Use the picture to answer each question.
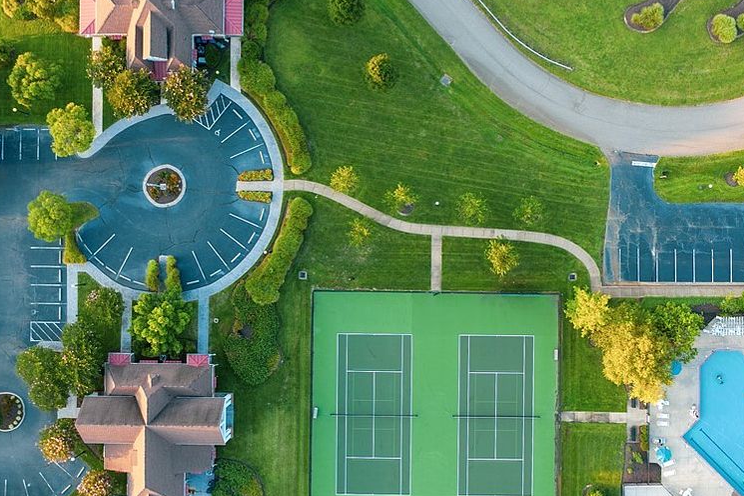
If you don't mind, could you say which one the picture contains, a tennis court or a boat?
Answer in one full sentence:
Visible in the photo is a tennis court.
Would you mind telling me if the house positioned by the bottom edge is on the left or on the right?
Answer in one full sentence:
The house positioned by the bottom edge appears in the left half of the scene.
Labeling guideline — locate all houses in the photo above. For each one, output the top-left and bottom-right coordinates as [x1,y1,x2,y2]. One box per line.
[73,353,234,496]
[79,0,246,84]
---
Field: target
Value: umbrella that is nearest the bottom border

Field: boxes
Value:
[654,446,670,462]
